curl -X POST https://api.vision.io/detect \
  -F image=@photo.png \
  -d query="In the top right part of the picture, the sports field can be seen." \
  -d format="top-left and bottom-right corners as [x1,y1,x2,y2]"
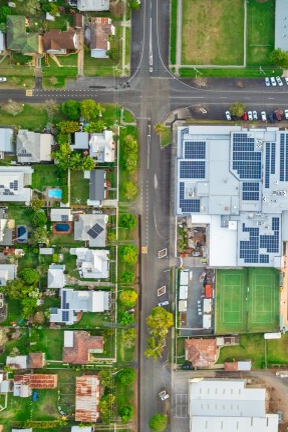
[182,0,243,63]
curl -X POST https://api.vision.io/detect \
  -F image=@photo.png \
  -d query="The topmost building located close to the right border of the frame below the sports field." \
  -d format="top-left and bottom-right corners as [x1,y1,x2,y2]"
[176,125,288,267]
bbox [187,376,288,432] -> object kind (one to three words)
building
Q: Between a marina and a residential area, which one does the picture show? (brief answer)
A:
residential area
